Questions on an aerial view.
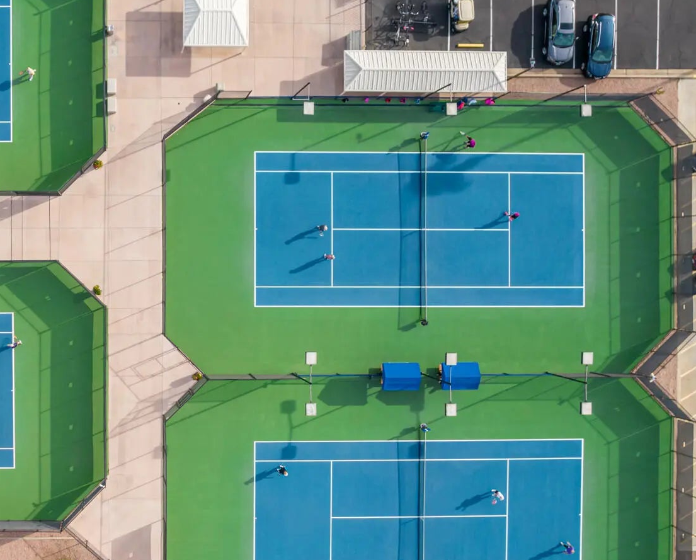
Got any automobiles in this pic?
Yes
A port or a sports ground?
sports ground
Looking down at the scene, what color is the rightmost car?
blue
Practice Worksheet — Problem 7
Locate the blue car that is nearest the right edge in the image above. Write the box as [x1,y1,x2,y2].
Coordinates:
[581,11,618,79]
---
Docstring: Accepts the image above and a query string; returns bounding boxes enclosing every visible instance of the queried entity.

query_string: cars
[542,0,580,64]
[581,11,618,79]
